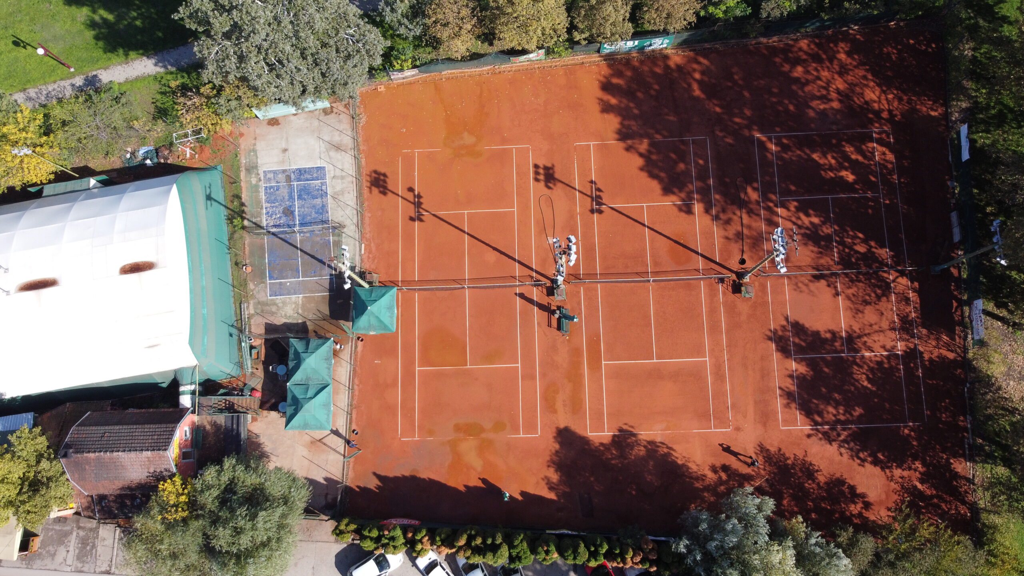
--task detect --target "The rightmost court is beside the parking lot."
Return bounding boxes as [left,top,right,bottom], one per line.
[748,123,935,435]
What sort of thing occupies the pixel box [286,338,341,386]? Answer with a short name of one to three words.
gazebo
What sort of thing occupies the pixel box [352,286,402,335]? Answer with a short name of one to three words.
gazebo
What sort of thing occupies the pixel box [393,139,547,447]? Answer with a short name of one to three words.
tennis court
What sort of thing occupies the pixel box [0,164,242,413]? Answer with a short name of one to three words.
building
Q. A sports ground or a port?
sports ground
